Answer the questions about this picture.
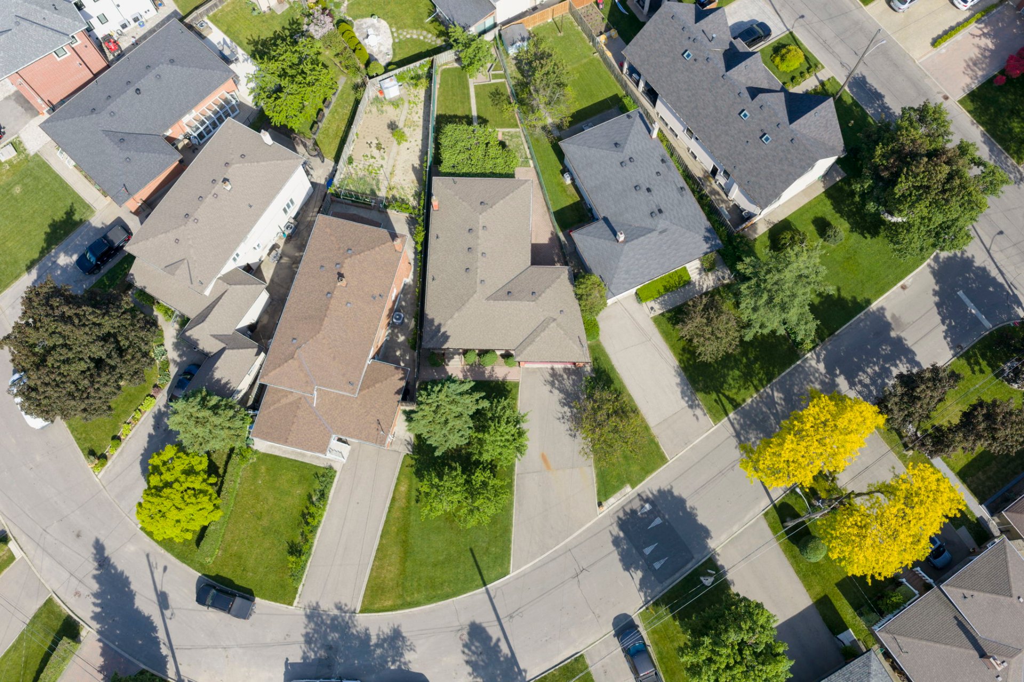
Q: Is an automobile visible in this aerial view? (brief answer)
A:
Yes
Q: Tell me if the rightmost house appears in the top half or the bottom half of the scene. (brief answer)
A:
bottom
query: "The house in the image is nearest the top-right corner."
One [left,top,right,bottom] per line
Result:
[621,1,850,220]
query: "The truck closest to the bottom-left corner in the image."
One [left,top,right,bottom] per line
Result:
[193,580,260,619]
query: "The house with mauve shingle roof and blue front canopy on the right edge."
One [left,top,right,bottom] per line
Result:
[971,479,1024,556]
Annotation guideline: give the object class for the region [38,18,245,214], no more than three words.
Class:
house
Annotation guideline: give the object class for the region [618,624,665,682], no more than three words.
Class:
truck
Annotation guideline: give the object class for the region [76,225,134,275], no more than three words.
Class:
truck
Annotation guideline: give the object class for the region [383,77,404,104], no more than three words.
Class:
shed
